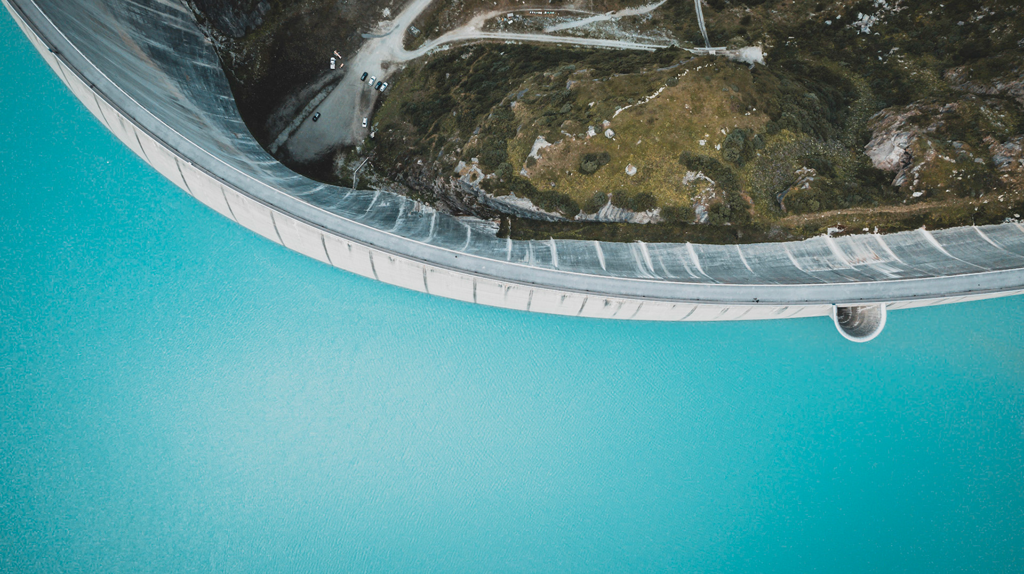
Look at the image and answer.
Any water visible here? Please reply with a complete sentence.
Yes, there is water in the image.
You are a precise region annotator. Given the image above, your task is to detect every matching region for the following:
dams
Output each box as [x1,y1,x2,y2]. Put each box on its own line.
[3,0,1024,321]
